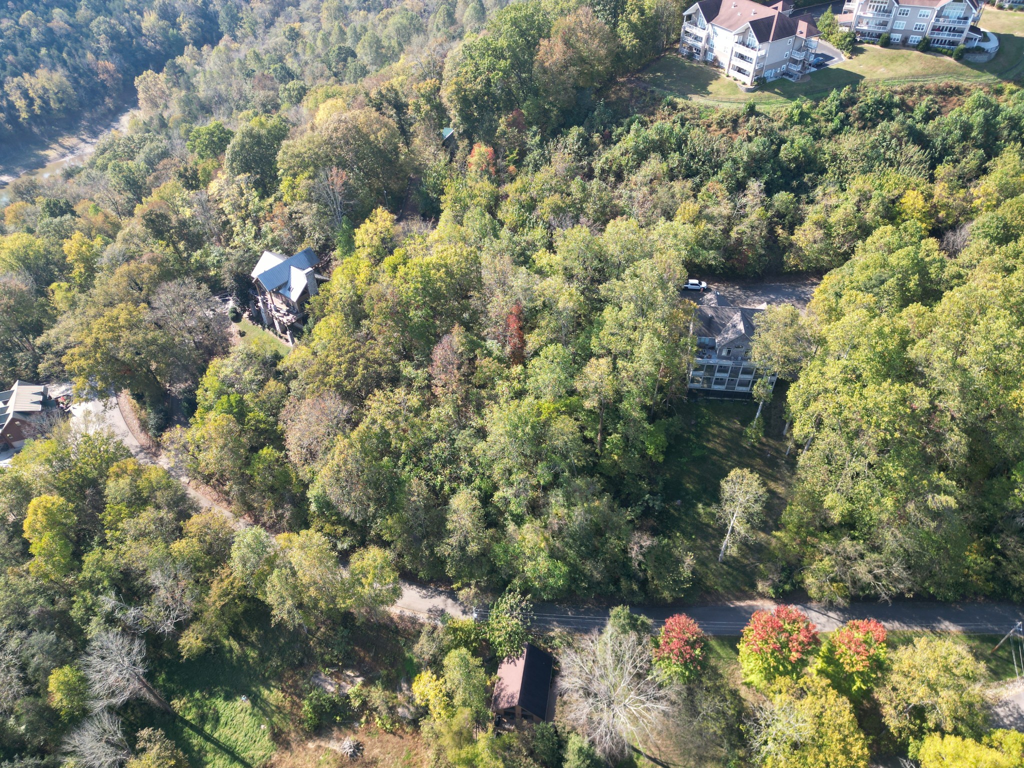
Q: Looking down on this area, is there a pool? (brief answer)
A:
No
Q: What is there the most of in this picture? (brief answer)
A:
trees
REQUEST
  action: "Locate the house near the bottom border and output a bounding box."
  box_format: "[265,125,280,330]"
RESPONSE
[488,644,556,743]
